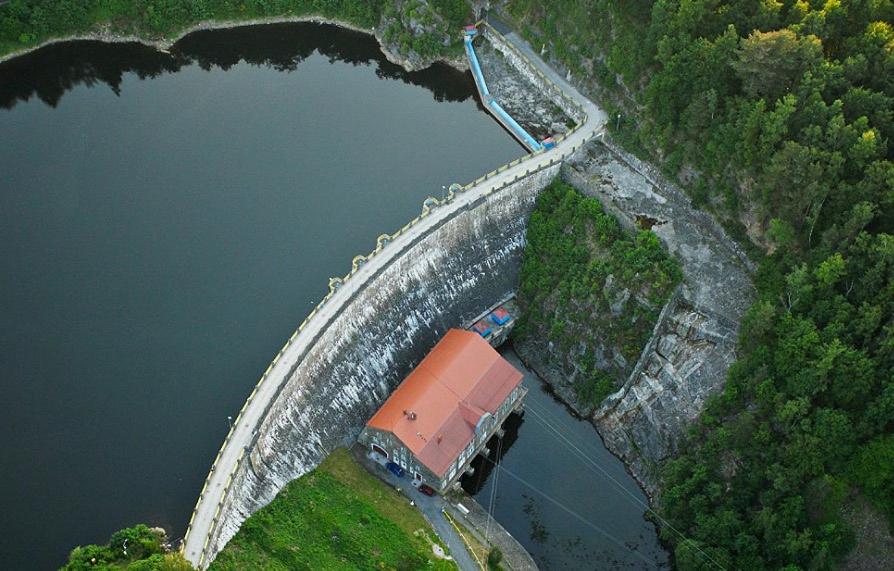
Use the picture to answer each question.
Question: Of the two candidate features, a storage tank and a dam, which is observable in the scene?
dam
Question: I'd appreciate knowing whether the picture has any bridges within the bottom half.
No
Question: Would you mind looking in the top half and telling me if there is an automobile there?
No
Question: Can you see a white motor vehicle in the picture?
No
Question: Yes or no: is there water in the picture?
Yes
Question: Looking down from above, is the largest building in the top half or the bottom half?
bottom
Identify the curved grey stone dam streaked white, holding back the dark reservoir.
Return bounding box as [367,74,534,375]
[173,148,564,571]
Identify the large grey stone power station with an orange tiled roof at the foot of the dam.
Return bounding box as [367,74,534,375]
[359,327,528,498]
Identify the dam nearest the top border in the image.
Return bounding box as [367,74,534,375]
[464,22,559,152]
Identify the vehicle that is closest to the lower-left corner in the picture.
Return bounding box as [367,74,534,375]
[382,458,403,476]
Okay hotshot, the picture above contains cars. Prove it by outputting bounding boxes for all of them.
[416,480,437,497]
[382,458,403,476]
